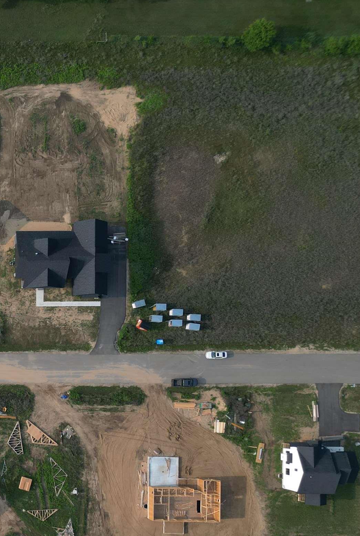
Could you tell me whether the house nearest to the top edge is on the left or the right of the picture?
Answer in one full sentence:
You can find the house nearest to the top edge on the left side of the picture.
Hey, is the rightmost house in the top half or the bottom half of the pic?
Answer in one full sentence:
The rightmost house sits in the bottom half of the picture.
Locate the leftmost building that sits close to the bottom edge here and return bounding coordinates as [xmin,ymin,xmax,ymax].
[142,455,221,534]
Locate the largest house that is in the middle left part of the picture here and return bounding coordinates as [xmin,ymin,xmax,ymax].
[8,215,107,294]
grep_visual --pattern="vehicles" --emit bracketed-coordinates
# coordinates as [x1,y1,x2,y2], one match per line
[205,350,228,360]
[170,377,198,388]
